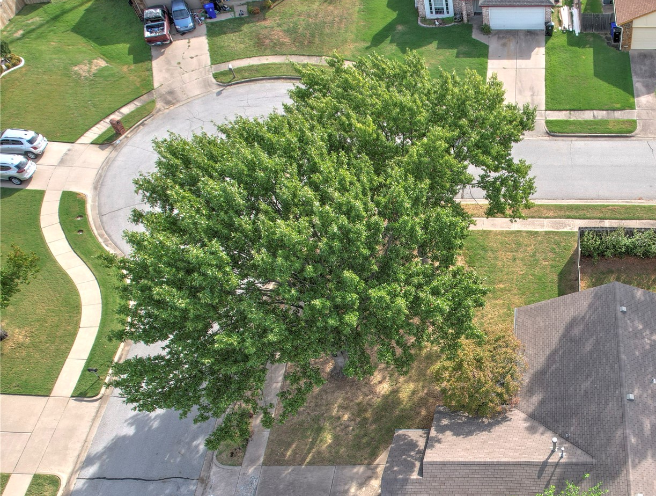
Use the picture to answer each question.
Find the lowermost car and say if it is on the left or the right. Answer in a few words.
left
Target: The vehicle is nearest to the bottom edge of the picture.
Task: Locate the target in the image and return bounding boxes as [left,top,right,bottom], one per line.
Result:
[0,158,35,190]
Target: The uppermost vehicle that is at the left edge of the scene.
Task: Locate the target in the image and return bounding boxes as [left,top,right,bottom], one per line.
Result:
[0,131,46,163]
